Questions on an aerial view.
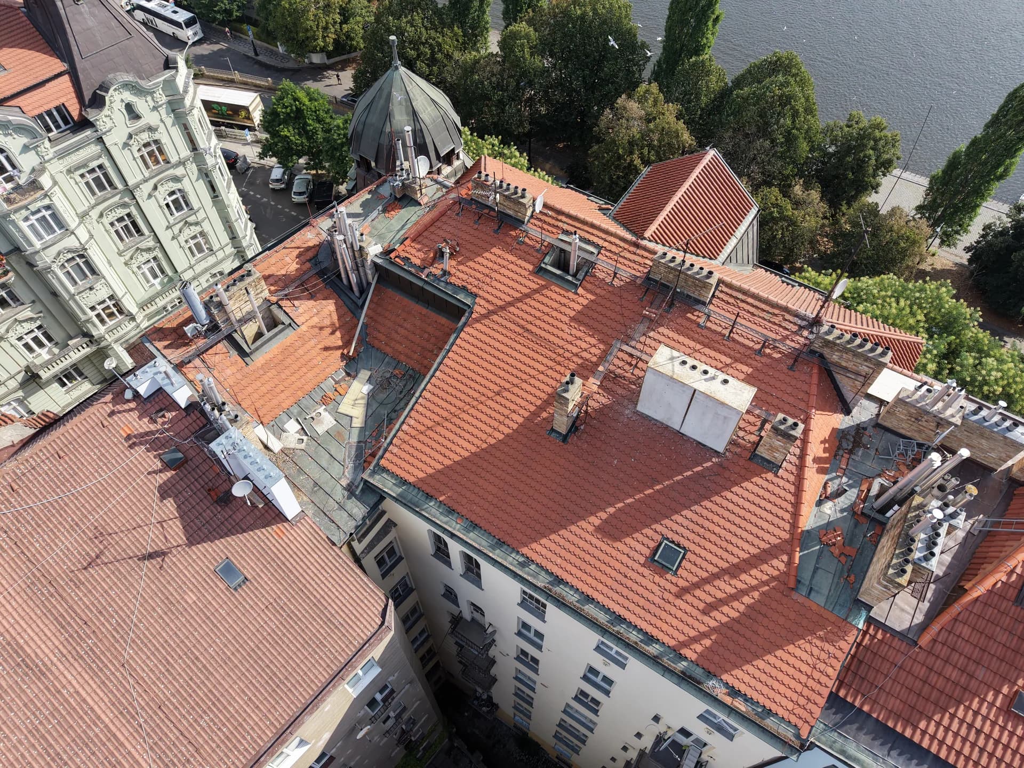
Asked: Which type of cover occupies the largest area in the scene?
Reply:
buildings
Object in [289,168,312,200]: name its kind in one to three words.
car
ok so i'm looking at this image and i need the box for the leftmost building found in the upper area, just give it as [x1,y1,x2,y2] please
[0,0,264,414]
